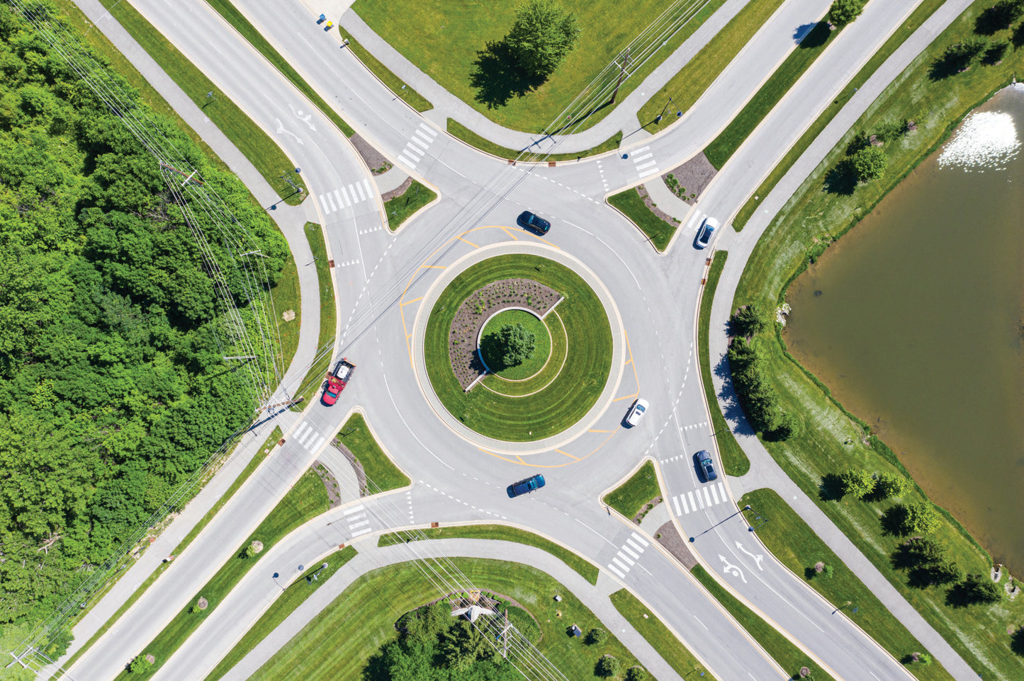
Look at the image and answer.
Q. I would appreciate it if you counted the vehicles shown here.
6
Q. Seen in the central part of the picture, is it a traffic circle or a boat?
traffic circle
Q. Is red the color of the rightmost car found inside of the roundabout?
No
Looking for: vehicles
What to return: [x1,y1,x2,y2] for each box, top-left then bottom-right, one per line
[511,476,547,497]
[322,360,354,405]
[698,450,719,483]
[627,398,650,427]
[697,216,719,248]
[521,211,552,232]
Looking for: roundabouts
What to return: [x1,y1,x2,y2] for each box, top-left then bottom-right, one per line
[366,195,672,501]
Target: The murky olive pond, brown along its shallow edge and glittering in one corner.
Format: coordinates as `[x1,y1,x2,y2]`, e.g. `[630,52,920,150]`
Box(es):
[787,89,1024,578]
